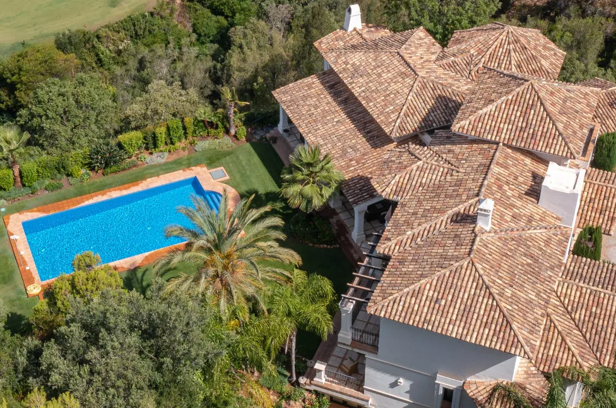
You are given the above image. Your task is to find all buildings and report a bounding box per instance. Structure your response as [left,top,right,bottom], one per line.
[267,2,616,408]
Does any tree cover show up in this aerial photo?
Yes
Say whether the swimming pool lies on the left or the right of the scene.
left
